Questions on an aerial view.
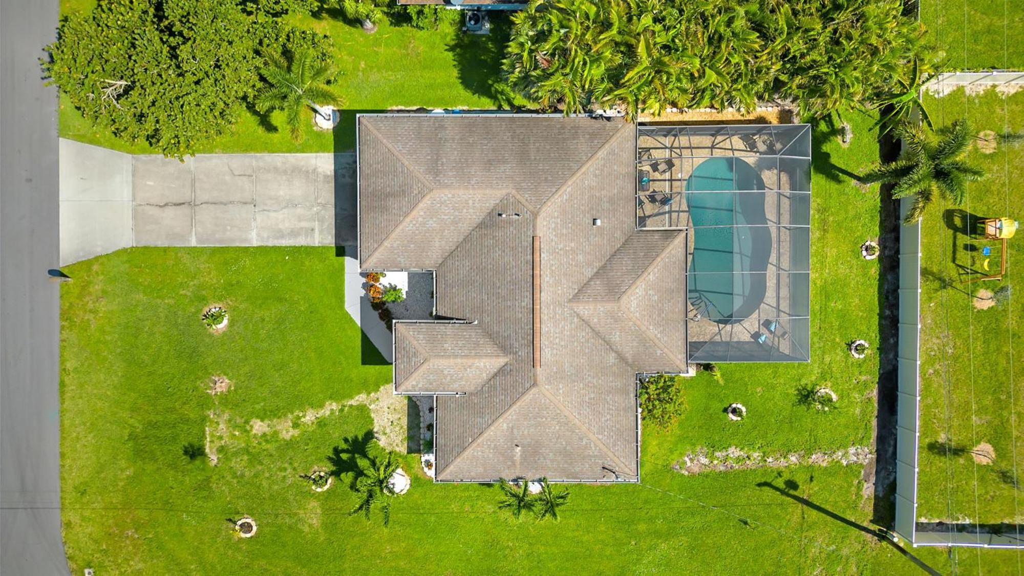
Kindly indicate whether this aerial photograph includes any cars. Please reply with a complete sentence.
No, no car is visible in the view.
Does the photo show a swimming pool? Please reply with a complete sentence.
Yes, there's a swimming pool here.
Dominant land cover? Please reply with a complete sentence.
For the most part, this view shows grass.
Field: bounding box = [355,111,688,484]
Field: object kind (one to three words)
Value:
house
